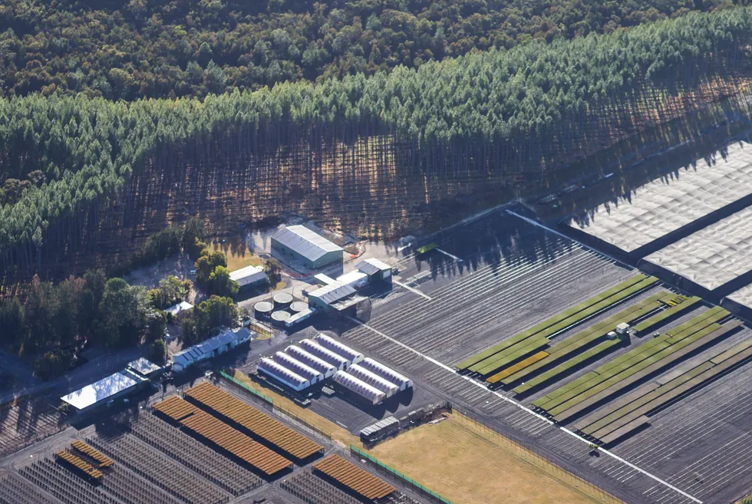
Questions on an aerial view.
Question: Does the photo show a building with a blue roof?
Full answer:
Yes, the picture does show a building with a blue roof.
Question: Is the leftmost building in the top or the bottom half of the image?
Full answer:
The bottom half of the photo is where the leftmost building is.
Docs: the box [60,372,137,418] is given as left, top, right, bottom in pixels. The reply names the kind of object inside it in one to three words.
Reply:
building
